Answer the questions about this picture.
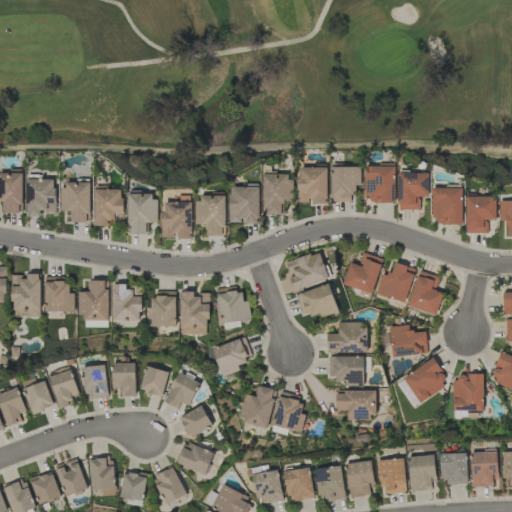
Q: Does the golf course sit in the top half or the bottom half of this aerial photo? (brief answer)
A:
top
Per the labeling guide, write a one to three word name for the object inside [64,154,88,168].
swimming pool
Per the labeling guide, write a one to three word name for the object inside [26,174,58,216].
house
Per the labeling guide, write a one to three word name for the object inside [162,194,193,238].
house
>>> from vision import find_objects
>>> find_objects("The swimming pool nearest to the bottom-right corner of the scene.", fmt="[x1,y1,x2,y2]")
[490,398,504,418]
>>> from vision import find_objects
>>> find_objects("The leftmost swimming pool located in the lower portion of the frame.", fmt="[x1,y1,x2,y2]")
[21,341,42,354]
